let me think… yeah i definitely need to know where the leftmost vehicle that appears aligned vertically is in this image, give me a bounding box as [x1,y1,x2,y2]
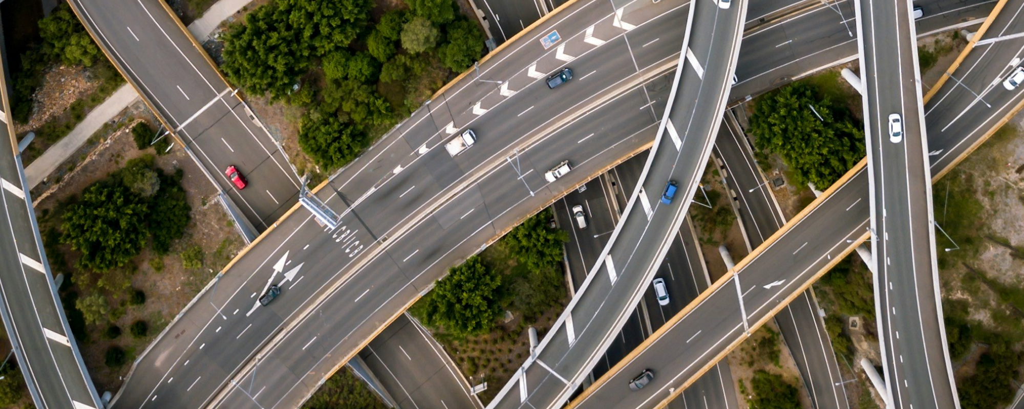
[573,204,587,230]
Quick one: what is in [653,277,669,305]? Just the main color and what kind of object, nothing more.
white car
